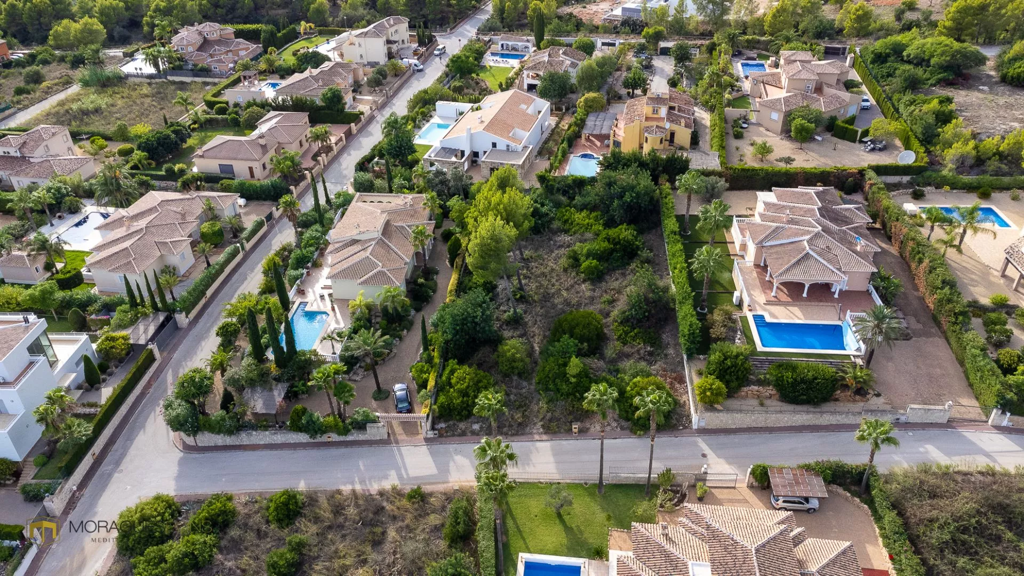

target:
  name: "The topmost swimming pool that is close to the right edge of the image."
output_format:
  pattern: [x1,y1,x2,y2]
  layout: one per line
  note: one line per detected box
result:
[920,205,1010,229]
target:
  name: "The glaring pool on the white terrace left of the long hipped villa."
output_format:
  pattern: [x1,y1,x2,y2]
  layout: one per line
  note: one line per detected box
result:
[53,210,111,244]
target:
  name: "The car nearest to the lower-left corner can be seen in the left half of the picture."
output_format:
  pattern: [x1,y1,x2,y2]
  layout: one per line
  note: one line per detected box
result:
[391,380,413,411]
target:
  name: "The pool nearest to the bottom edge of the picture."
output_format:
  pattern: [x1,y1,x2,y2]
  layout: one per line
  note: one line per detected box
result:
[516,553,588,576]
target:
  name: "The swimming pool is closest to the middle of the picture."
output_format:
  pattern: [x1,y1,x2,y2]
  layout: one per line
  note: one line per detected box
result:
[567,151,600,175]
